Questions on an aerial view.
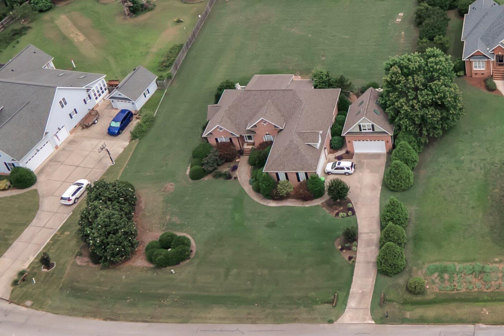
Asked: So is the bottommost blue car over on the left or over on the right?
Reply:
left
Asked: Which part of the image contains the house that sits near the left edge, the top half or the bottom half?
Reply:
top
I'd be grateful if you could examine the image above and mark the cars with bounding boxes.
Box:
[56,180,94,207]
[323,159,357,176]
[105,106,136,135]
